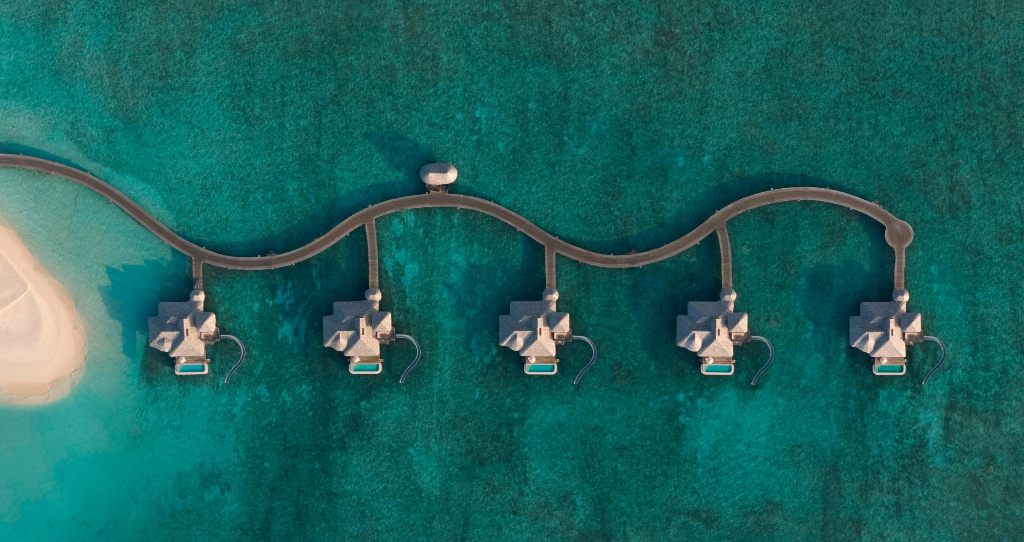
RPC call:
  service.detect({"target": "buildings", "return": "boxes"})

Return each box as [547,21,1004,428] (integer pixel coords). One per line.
[147,288,226,364]
[323,288,402,364]
[499,289,578,364]
[848,289,927,365]
[677,289,755,365]
[420,162,458,194]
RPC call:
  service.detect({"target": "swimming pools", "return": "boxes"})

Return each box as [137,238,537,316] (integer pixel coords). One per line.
[700,364,734,374]
[524,364,557,374]
[348,363,382,374]
[175,364,209,374]
[872,364,906,375]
